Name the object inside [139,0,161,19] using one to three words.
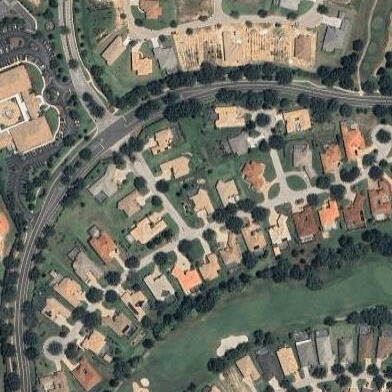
house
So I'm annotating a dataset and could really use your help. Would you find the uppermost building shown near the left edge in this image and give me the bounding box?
[0,64,56,161]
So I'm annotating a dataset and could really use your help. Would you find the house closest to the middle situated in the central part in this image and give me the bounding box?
[192,184,213,217]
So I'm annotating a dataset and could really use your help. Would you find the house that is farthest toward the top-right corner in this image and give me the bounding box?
[322,23,345,52]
